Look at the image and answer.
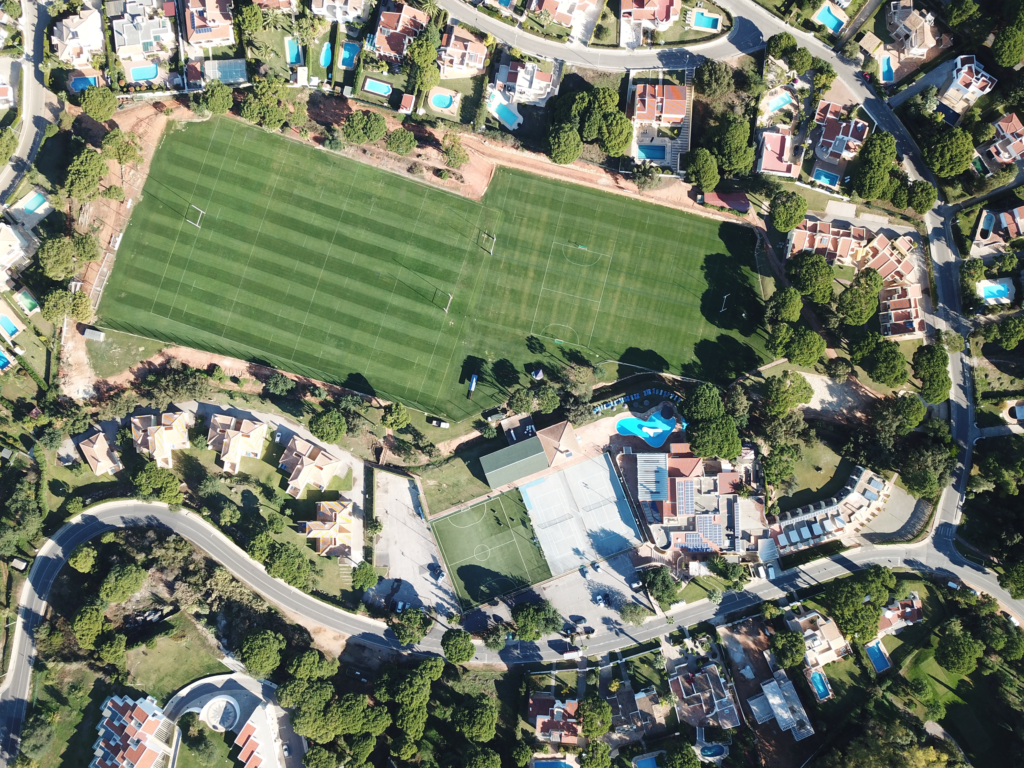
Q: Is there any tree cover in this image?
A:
Yes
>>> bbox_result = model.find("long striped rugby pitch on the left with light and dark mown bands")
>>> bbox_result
[95,116,504,422]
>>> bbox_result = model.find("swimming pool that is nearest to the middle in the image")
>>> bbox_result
[615,408,677,449]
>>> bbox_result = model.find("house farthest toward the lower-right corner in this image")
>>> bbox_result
[875,591,924,635]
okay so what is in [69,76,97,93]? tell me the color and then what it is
blue swimming pool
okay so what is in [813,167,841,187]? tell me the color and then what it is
blue swimming pool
